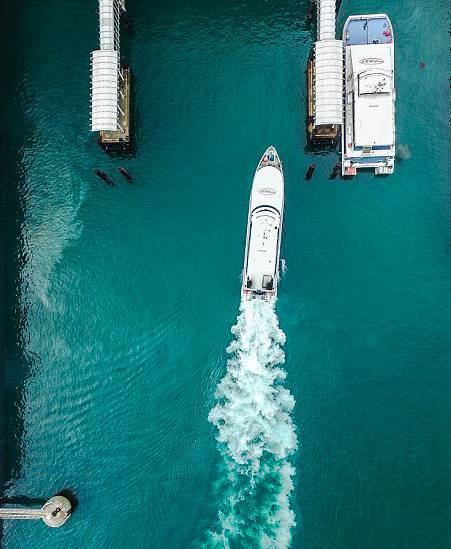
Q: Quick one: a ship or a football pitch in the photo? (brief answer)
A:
ship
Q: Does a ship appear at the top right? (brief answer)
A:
Yes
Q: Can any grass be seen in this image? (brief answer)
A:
No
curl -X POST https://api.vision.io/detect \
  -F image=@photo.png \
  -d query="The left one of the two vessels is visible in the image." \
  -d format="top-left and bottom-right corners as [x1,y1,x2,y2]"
[241,145,284,301]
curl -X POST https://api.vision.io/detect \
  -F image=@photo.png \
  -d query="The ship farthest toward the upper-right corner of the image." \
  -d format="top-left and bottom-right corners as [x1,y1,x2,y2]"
[337,10,396,178]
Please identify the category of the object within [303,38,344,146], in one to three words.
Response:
pier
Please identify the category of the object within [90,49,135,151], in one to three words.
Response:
pier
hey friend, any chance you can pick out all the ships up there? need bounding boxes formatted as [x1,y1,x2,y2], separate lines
[337,10,396,178]
[241,145,284,301]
